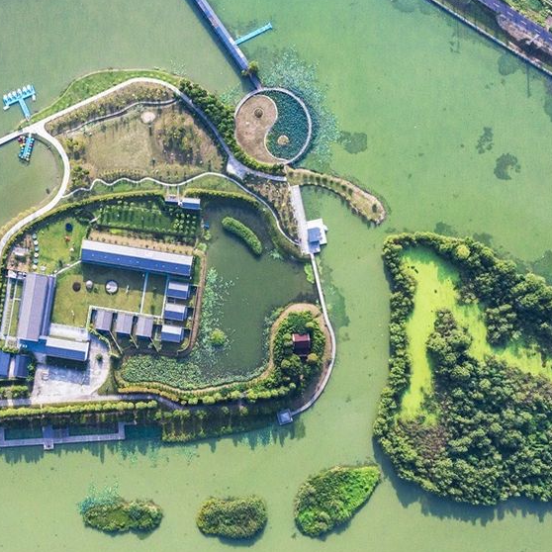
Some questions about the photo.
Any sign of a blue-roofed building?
Yes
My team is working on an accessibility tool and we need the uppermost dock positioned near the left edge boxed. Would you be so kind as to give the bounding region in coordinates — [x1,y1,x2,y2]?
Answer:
[3,85,35,124]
